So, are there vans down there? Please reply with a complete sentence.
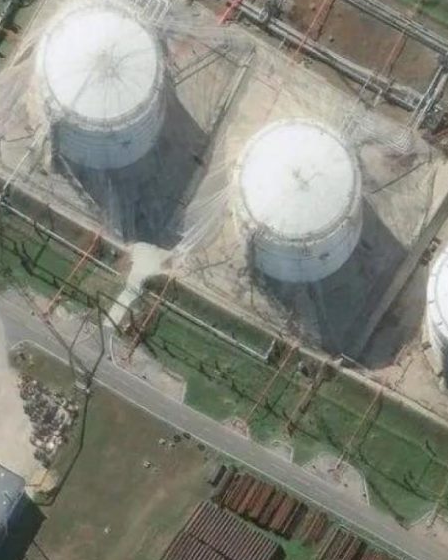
No, no van can be seen from above.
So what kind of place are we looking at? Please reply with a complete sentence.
This looks like an industrial area.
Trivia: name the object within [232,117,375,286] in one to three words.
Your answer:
storage tank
